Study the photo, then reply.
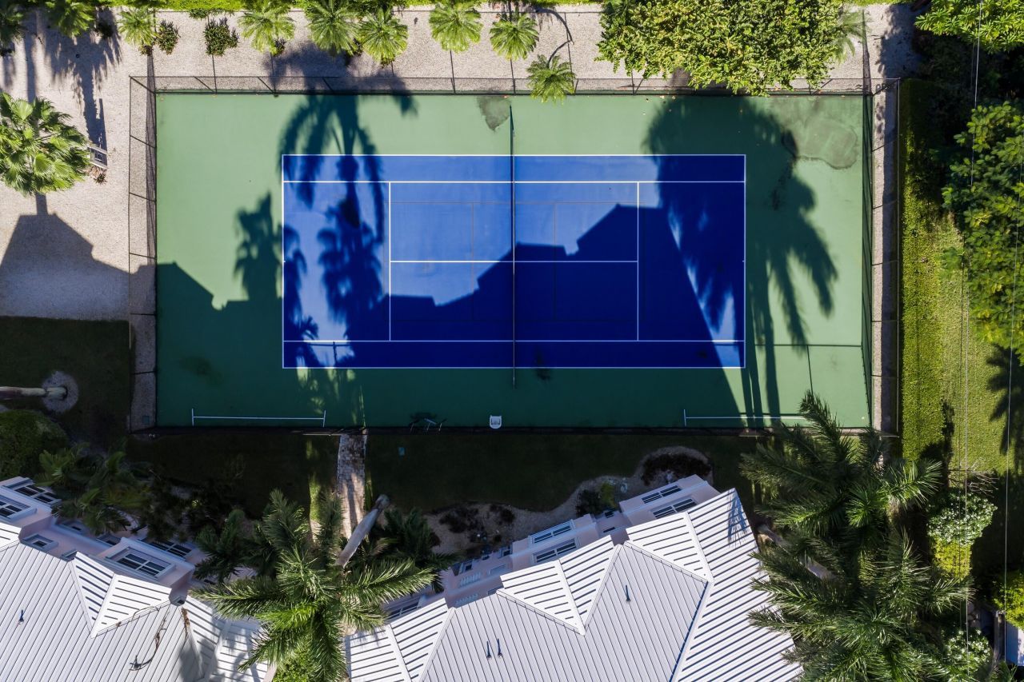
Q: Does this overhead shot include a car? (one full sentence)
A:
No, no car is visible in the view.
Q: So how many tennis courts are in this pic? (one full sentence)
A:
In total, there is 1 tennis court in the scene.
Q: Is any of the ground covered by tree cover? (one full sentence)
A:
Yes, the picture does contain tree cover.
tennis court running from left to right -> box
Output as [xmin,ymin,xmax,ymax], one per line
[155,89,873,427]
